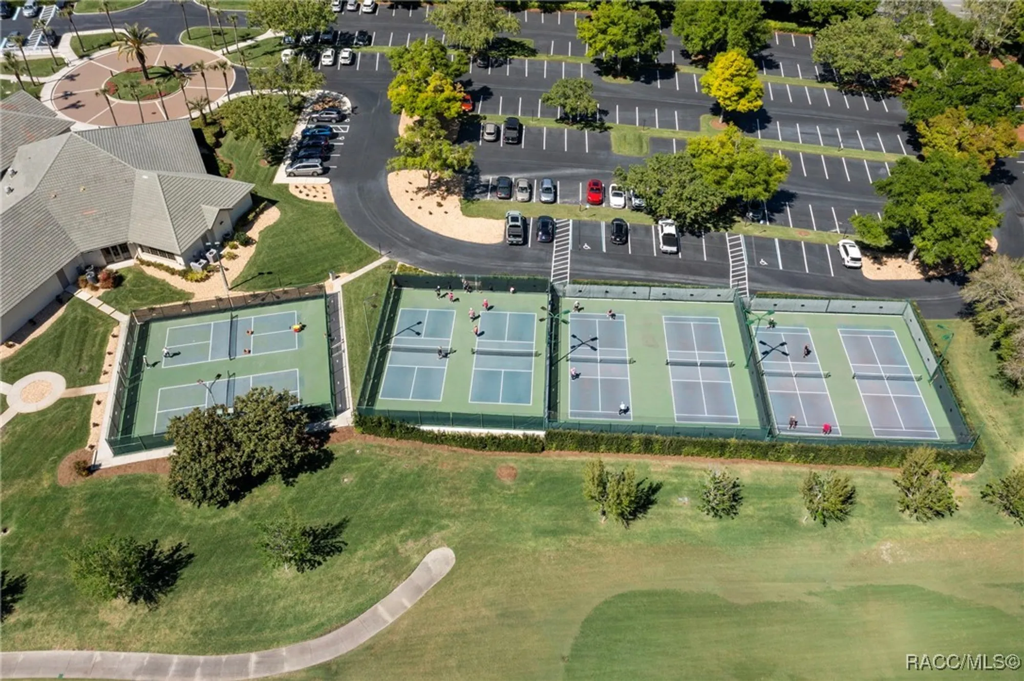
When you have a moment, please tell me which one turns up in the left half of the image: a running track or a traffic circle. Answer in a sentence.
Looking in the left half of the image, you will find a traffic circle.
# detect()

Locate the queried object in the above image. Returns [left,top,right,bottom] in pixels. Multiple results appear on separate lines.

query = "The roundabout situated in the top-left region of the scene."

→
[49,43,236,126]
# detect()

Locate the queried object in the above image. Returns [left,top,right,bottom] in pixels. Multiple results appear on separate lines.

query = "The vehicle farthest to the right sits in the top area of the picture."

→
[841,239,864,267]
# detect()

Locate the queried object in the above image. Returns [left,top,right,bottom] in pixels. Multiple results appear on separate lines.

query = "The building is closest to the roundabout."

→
[0,90,255,340]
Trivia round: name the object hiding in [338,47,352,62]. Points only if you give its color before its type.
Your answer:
white car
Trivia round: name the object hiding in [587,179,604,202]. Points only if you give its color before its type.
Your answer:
red car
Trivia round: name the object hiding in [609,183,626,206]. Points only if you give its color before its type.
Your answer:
white car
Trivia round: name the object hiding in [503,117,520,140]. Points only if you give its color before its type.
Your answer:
black vehicle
